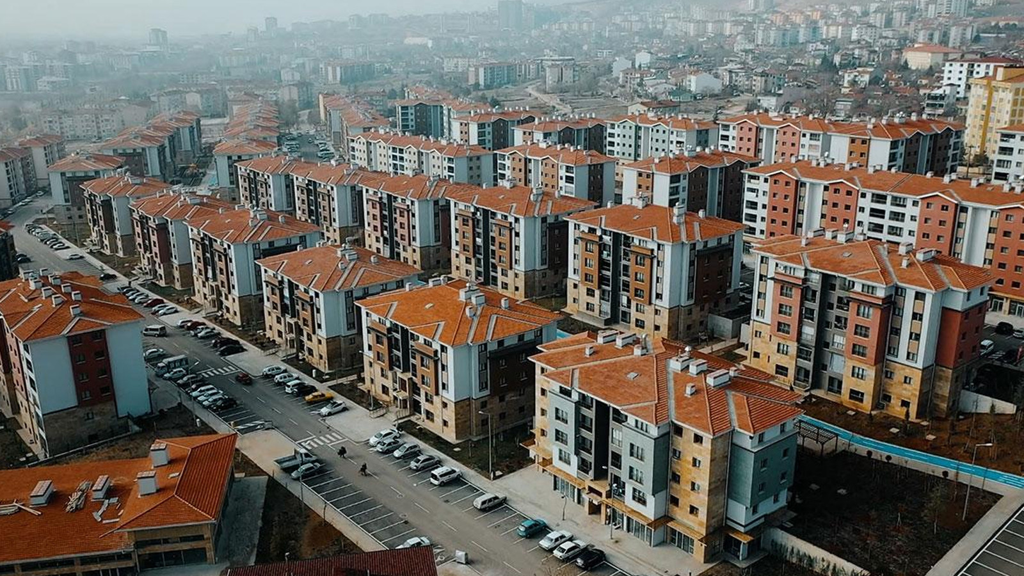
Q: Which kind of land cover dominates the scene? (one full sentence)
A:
The bulk of the photo consists of buildings.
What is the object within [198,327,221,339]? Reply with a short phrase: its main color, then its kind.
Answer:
gray vehicle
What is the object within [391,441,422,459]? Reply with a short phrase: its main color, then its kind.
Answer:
gray car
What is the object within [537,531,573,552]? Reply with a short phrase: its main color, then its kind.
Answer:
white car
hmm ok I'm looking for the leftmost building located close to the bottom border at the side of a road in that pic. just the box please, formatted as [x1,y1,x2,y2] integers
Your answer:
[0,433,232,576]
